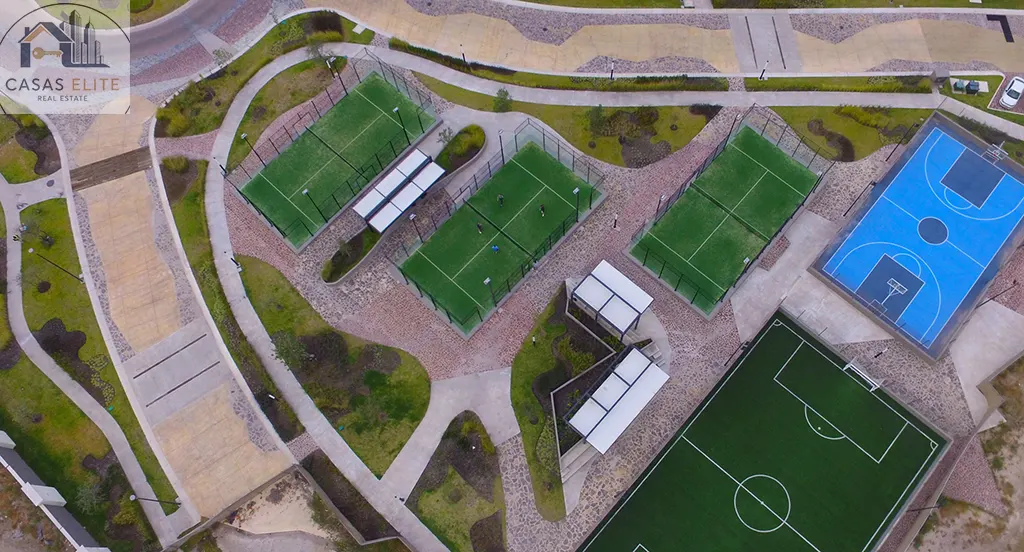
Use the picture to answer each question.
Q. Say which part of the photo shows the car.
top right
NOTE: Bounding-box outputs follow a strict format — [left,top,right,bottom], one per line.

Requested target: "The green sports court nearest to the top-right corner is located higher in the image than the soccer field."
[621,104,833,323]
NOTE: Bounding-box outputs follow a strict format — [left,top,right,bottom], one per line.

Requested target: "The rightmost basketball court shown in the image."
[807,100,1024,366]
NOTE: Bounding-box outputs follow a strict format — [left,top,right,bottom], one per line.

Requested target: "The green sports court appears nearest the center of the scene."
[389,120,610,342]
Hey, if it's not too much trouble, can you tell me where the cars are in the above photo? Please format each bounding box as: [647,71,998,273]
[1001,67,1024,106]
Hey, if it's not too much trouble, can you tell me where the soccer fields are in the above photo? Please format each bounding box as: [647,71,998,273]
[578,302,958,552]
